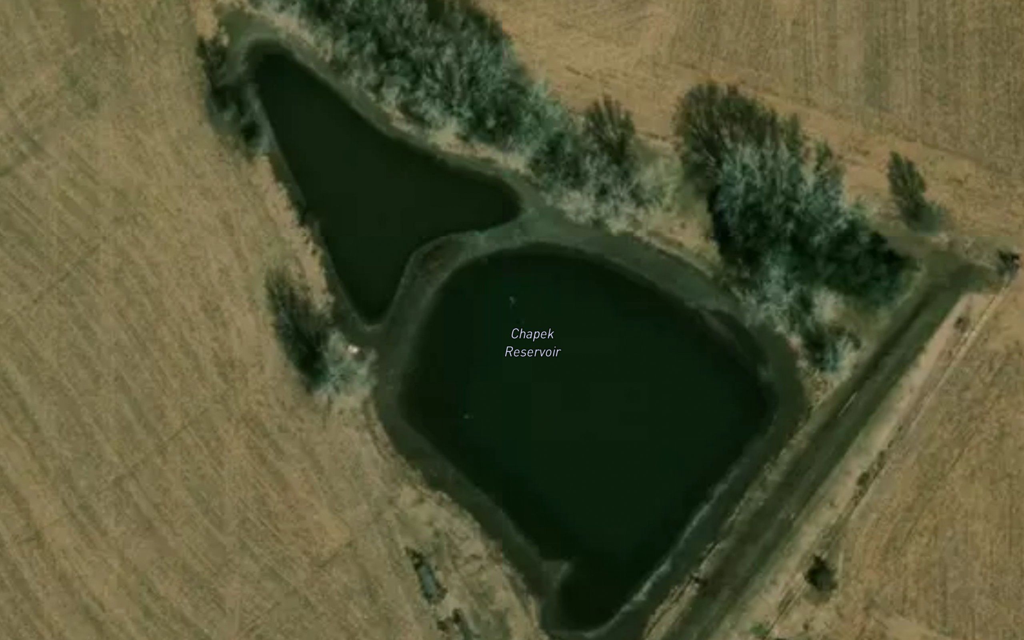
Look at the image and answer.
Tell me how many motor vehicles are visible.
0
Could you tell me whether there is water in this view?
Yes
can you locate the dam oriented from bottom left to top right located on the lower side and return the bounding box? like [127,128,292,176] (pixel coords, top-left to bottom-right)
[642,278,912,640]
